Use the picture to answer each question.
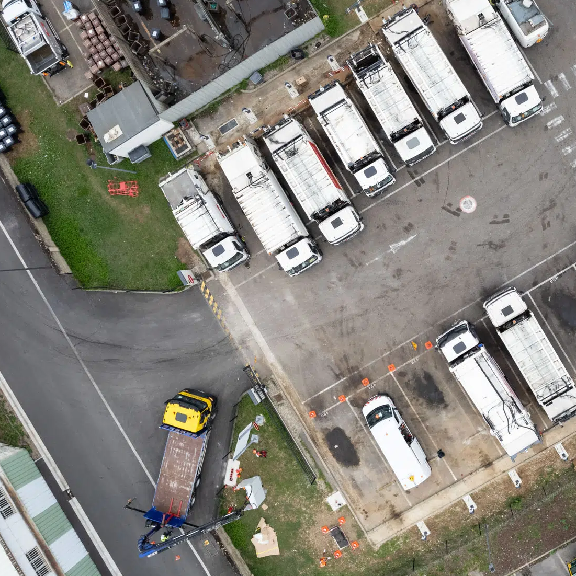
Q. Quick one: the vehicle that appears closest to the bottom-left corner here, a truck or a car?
truck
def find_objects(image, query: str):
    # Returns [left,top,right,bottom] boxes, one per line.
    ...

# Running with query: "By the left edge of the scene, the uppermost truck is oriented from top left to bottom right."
[0,0,77,88]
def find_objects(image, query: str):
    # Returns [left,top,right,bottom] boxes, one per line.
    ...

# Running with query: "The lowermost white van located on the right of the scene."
[365,393,431,486]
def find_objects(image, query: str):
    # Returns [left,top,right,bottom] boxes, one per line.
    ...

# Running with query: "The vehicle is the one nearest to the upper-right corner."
[492,0,549,56]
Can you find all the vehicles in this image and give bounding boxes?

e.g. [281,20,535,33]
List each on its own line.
[478,283,576,427]
[346,41,442,171]
[260,109,368,247]
[439,0,546,128]
[122,388,254,559]
[365,393,431,486]
[304,74,400,197]
[158,164,251,273]
[214,138,324,276]
[379,2,487,146]
[433,322,541,459]
[0,0,77,88]
[492,0,549,56]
